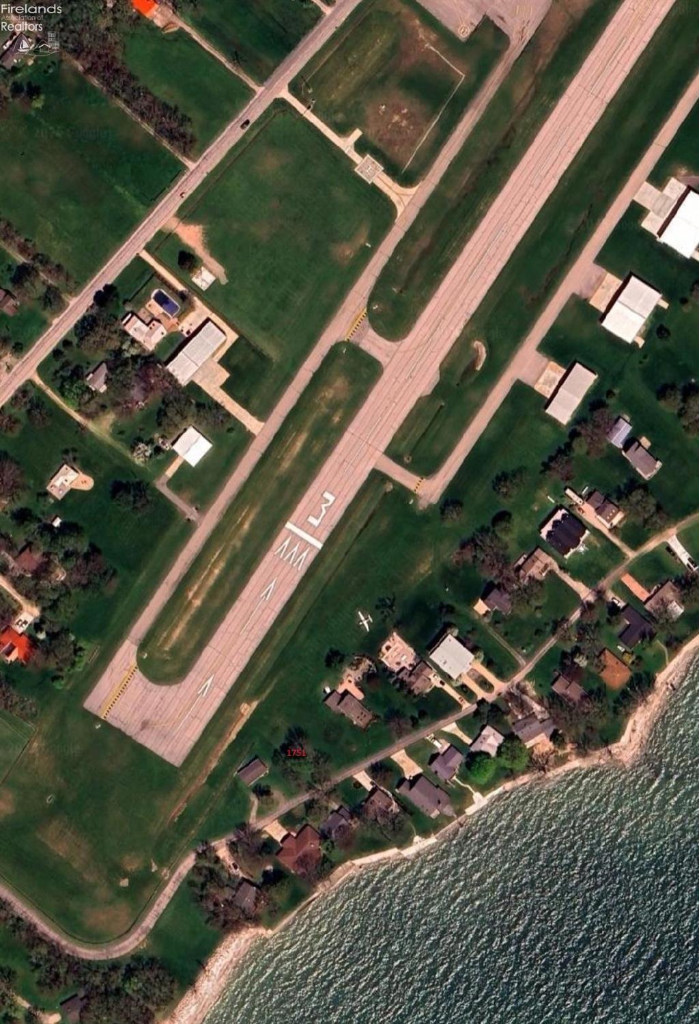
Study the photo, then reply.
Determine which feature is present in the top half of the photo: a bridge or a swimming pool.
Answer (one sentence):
What appears in the top half of the photo is a swimming pool.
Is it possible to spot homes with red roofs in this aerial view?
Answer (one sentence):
Yes, there is a home with a red roof in the image.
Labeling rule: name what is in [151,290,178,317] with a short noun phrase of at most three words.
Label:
swimming pool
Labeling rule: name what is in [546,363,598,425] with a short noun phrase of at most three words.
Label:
hangar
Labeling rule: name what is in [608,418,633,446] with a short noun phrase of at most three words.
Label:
shed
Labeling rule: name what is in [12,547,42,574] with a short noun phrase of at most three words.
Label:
house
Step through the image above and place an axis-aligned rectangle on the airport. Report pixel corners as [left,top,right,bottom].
[83,0,699,767]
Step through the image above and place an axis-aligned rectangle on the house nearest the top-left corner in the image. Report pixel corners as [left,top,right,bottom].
[0,34,31,72]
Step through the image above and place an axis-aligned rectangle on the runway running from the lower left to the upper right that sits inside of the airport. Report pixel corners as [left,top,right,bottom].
[149,0,676,767]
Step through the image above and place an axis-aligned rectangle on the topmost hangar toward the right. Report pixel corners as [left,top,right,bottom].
[659,190,699,258]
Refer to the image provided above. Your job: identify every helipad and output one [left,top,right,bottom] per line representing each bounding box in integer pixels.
[354,154,384,184]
